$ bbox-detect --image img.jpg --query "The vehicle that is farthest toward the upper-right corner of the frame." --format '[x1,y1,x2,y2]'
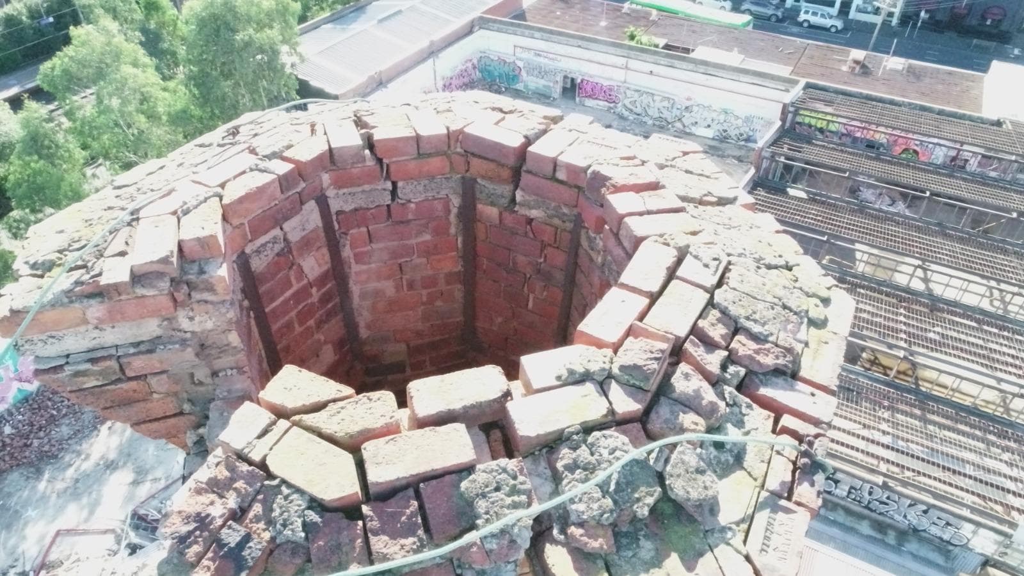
[798,1,850,30]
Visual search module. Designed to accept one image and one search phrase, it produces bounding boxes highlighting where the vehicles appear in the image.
[696,0,737,9]
[620,0,751,26]
[798,1,850,30]
[740,0,787,17]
